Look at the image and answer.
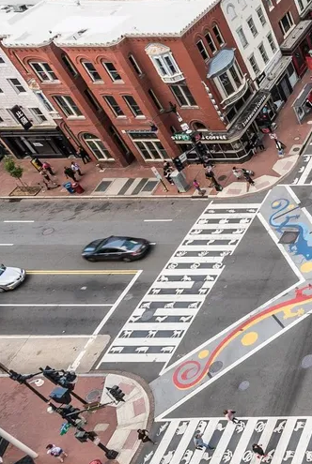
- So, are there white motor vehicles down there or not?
Yes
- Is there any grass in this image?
No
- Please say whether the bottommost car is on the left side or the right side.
left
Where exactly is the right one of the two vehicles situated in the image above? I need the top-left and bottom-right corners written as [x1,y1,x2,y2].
[78,233,157,262]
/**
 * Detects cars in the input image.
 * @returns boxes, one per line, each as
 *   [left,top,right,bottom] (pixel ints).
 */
[0,262,32,293]
[78,233,157,262]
